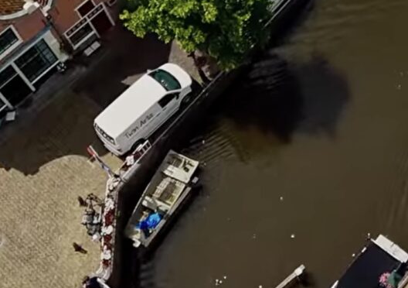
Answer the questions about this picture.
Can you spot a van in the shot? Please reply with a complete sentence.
Yes, the photo shows a van.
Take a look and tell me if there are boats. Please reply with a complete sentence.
Yes, the photo shows a boat.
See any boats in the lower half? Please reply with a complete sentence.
Yes, looking in the lower half, one can make out a boat.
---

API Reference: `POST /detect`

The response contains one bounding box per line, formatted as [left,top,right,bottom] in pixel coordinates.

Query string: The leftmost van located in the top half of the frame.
[87,58,199,152]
